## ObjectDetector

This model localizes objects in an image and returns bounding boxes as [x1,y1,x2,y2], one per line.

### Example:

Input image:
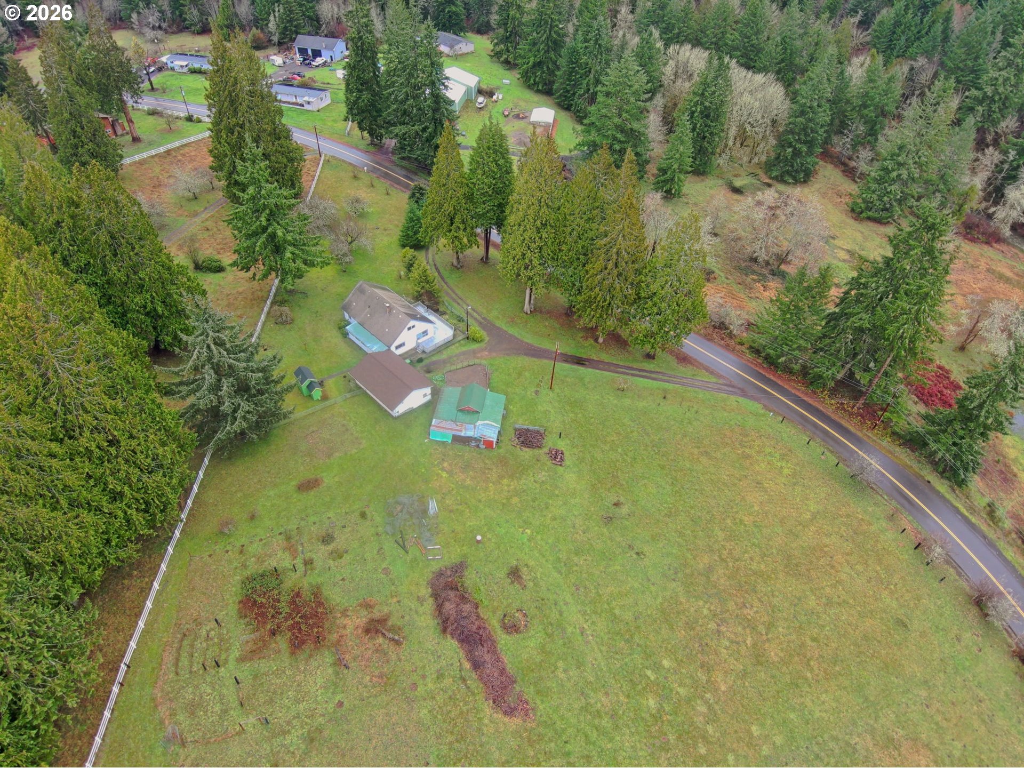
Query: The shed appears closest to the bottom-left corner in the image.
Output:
[293,367,322,404]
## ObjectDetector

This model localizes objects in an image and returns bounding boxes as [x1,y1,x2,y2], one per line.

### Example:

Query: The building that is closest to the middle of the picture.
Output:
[427,375,511,452]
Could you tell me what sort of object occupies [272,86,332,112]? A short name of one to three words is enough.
house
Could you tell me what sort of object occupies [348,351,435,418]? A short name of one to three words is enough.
building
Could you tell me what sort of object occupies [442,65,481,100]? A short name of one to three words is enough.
barn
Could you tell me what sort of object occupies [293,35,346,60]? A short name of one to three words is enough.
building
